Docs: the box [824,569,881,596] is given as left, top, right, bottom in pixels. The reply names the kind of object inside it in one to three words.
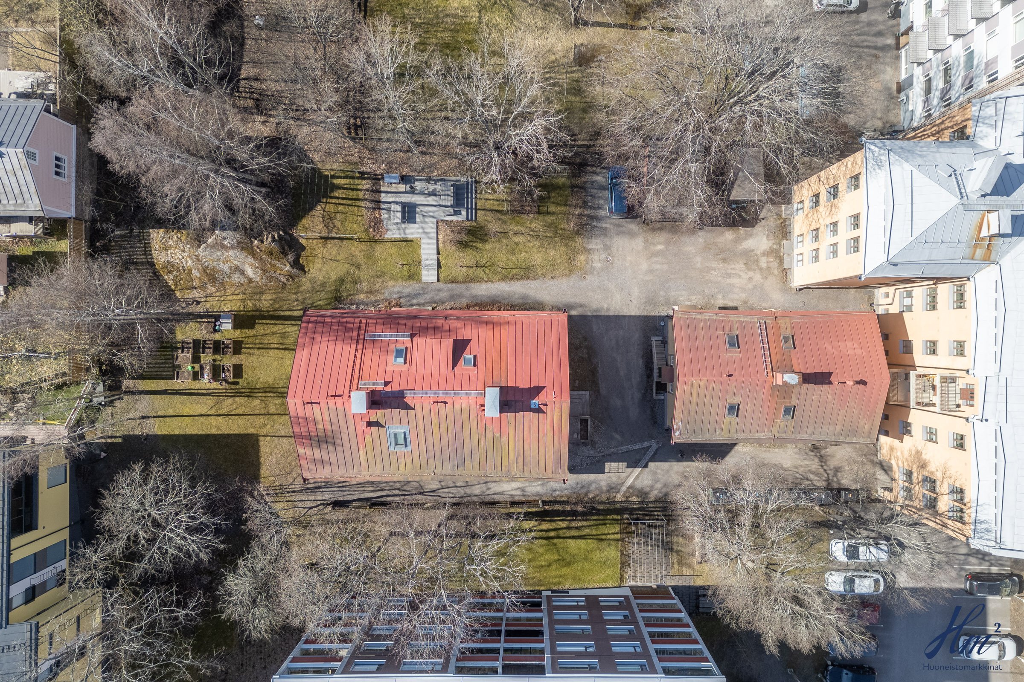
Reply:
car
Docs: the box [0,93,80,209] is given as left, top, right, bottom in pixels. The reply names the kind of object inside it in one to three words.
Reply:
house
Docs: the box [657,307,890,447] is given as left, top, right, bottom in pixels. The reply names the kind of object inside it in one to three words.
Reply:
house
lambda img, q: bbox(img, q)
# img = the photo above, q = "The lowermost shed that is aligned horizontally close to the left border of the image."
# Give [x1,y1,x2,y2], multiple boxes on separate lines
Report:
[12,221,55,235]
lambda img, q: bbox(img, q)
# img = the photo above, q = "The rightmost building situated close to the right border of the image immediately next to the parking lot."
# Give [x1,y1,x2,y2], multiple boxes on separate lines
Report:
[791,88,1024,555]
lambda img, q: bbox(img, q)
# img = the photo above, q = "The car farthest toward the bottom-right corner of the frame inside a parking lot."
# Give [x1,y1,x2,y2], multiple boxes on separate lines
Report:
[955,633,1013,661]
